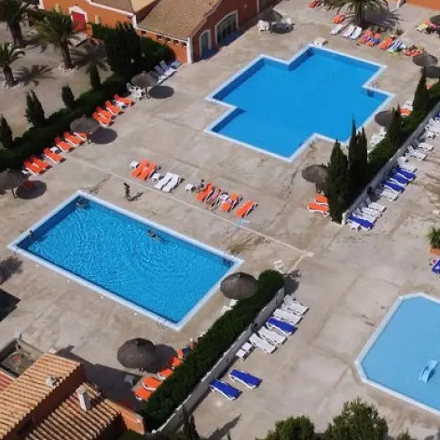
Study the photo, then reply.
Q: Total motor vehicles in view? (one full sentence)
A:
There are no motor vehicles in the image.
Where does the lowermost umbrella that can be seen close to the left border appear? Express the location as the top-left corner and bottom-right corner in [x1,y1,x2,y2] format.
[0,170,30,204]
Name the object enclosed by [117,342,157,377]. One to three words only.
umbrella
